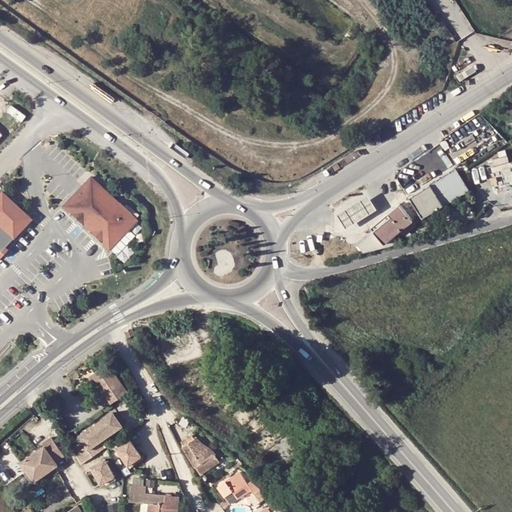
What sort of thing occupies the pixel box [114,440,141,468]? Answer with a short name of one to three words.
house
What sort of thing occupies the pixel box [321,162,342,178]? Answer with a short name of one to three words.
vehicle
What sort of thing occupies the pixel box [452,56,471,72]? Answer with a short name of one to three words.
vehicle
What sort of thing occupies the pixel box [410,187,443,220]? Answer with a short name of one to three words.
building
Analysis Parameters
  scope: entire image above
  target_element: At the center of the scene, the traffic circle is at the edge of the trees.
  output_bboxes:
[174,197,282,305]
